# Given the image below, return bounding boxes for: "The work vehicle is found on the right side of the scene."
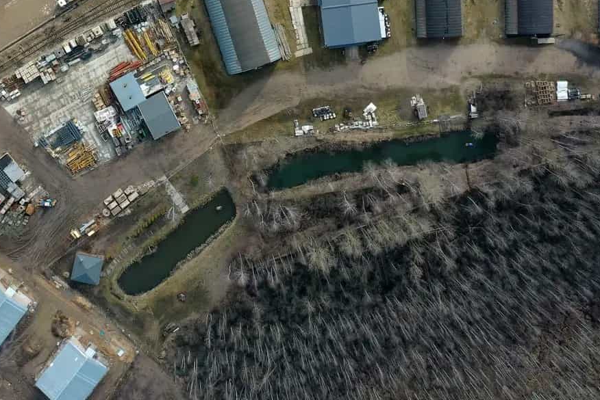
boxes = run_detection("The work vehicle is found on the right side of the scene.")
[412,96,425,116]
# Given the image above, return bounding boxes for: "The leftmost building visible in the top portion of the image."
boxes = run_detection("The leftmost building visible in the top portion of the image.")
[111,71,147,111]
